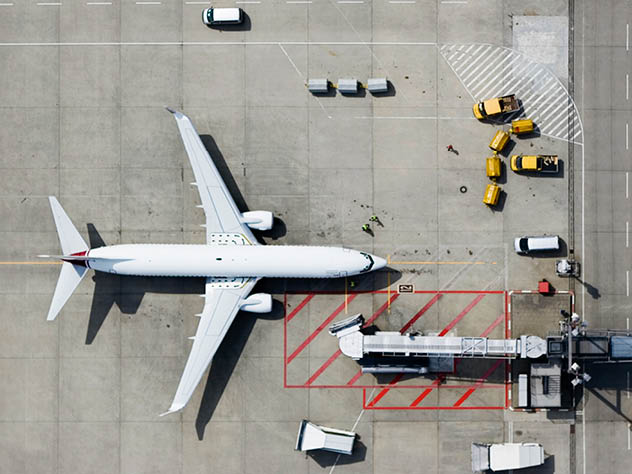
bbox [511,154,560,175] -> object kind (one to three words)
vehicle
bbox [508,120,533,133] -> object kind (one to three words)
vehicle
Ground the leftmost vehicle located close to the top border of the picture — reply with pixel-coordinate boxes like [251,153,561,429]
[202,6,243,26]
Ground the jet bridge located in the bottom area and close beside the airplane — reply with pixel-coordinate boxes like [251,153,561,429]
[329,314,546,374]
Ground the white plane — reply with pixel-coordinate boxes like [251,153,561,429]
[43,107,386,414]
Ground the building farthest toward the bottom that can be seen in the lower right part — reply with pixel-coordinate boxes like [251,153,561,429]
[526,360,560,408]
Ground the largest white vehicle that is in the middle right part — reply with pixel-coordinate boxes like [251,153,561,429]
[513,234,559,254]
